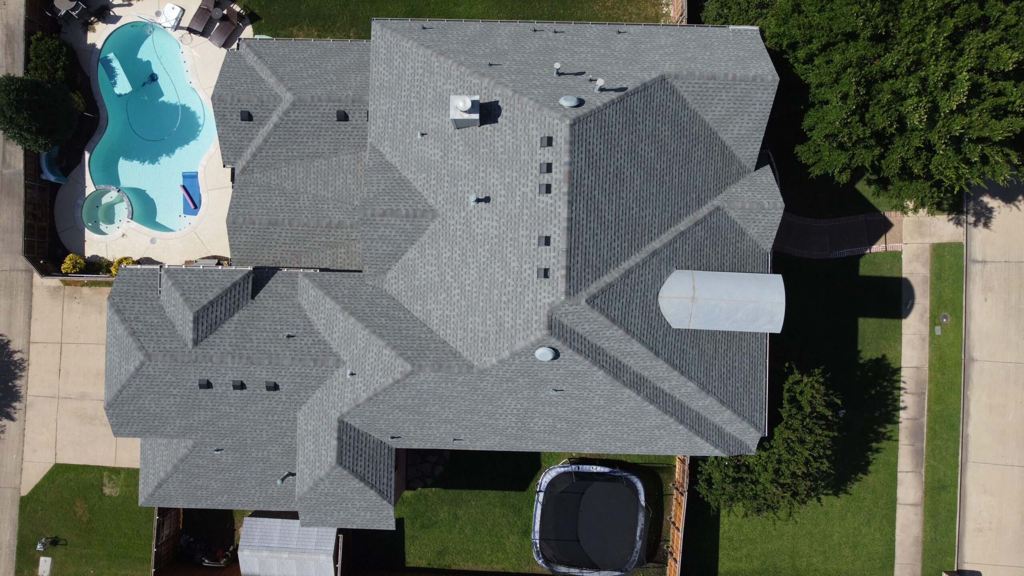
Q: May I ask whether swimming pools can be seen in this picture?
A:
Yes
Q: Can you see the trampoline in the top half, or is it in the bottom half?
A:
bottom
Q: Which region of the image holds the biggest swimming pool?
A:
top left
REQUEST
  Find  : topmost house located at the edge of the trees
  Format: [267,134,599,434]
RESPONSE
[103,16,785,529]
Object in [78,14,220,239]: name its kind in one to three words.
swimming pool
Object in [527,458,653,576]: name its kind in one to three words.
trampoline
